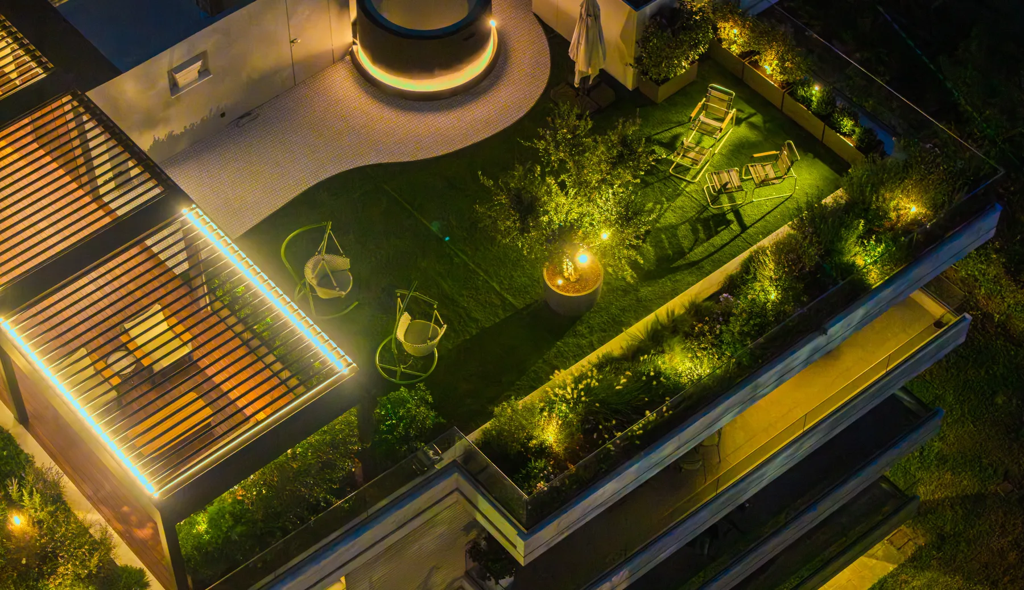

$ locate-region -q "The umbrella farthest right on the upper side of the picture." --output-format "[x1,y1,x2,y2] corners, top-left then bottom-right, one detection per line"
[553,0,615,117]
